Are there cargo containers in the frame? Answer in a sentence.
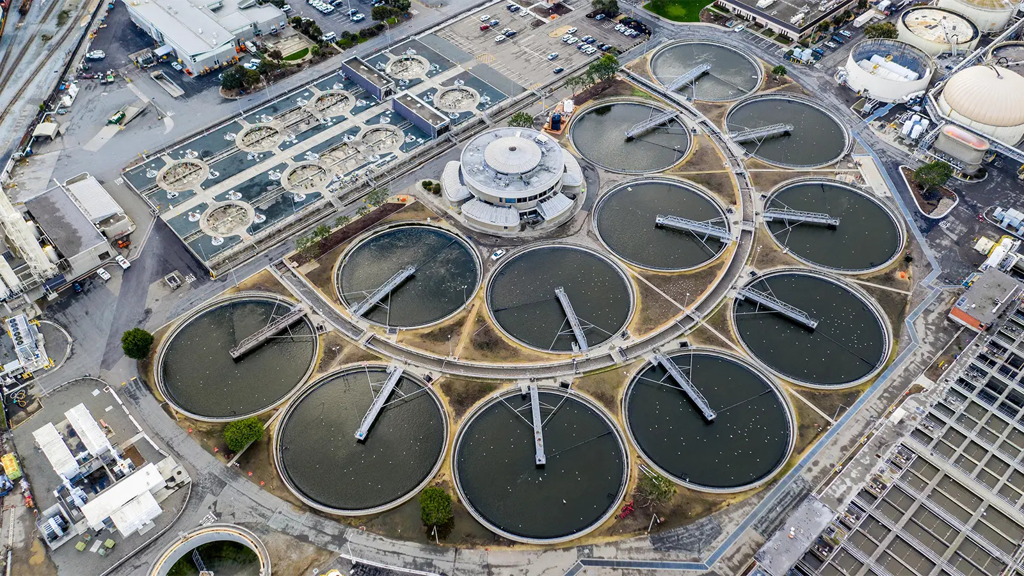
Yes, the photo shows a cargo container.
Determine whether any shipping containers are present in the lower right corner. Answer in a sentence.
No, there is no shipping container in the lower right corner.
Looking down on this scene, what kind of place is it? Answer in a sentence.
The area seen from above is an industrial area.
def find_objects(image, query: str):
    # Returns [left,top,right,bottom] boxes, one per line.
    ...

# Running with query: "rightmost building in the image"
[942,265,1024,343]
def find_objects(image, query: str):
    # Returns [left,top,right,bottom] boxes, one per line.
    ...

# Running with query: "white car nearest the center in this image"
[490,248,507,261]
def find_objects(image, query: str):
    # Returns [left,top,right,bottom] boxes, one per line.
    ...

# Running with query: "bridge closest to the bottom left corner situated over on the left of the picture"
[228,298,314,357]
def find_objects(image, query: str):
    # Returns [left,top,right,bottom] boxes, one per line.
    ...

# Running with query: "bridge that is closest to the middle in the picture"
[548,284,611,359]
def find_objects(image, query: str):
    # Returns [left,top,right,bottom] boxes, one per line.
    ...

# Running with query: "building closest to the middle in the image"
[442,126,586,231]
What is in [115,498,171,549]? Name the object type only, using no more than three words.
shed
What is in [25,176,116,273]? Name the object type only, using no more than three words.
building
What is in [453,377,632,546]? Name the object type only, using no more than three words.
storage tank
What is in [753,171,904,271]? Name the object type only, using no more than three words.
storage tank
